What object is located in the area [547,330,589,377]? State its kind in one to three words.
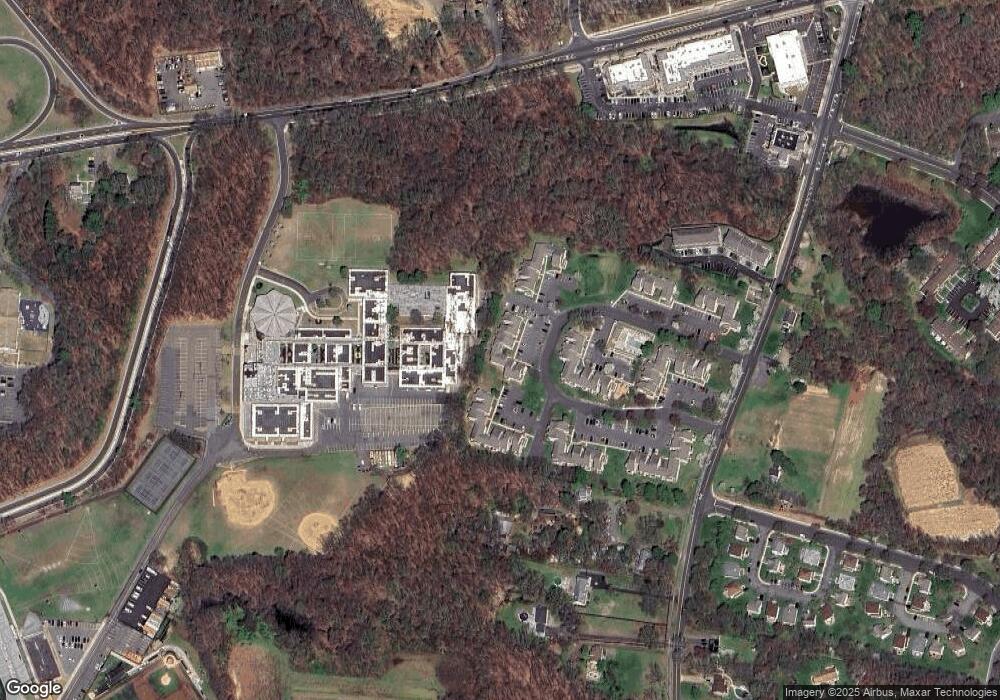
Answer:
building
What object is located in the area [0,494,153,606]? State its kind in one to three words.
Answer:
soccer field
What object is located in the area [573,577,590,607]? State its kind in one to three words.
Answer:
house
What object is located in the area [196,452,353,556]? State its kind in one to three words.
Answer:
baseball field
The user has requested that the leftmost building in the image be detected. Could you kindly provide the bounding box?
[21,299,49,332]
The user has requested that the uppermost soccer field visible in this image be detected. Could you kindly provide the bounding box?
[289,206,399,268]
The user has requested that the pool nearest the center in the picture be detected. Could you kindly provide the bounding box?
[626,334,645,350]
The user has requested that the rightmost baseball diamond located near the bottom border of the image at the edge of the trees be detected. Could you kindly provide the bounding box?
[115,647,210,700]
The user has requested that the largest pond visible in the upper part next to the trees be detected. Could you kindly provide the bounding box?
[845,185,938,253]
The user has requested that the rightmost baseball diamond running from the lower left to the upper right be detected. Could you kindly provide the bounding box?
[284,453,386,556]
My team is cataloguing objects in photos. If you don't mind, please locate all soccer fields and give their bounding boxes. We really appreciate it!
[289,206,399,268]
[0,494,153,606]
